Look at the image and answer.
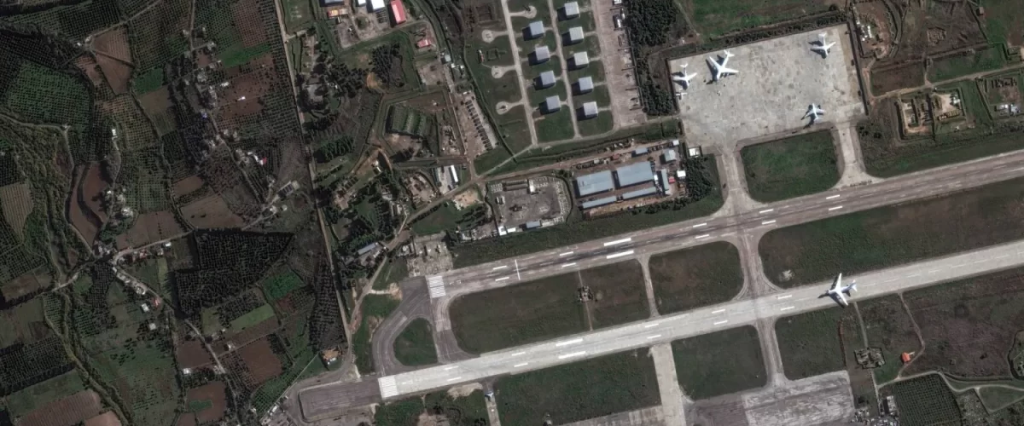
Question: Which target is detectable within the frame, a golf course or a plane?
plane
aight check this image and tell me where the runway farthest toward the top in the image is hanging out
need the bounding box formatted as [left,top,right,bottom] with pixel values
[427,149,1024,300]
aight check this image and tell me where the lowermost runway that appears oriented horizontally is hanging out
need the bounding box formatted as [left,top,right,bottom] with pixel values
[380,240,1024,399]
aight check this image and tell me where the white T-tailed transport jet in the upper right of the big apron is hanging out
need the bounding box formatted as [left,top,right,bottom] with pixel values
[813,32,836,57]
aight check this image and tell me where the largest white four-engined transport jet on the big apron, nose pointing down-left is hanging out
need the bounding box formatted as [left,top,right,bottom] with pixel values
[710,49,739,80]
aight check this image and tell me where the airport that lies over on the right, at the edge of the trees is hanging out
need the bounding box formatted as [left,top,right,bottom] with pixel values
[287,0,1024,426]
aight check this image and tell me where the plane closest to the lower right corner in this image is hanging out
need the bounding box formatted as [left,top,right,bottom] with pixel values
[828,274,860,304]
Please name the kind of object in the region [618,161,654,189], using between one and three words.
building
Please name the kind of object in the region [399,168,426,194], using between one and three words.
building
